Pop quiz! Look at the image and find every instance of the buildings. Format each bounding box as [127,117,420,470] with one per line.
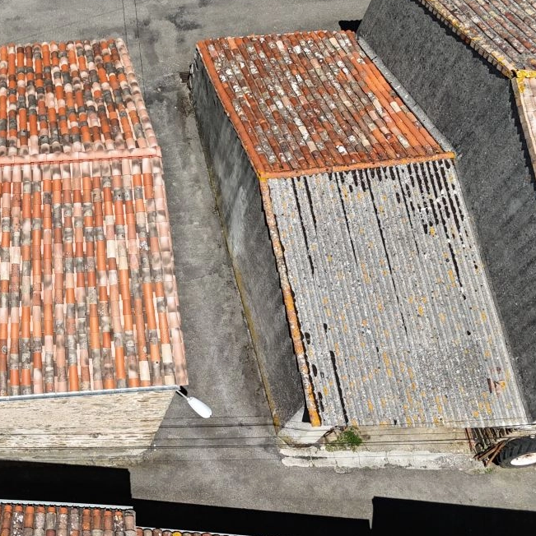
[0,502,143,536]
[0,35,193,451]
[187,25,524,443]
